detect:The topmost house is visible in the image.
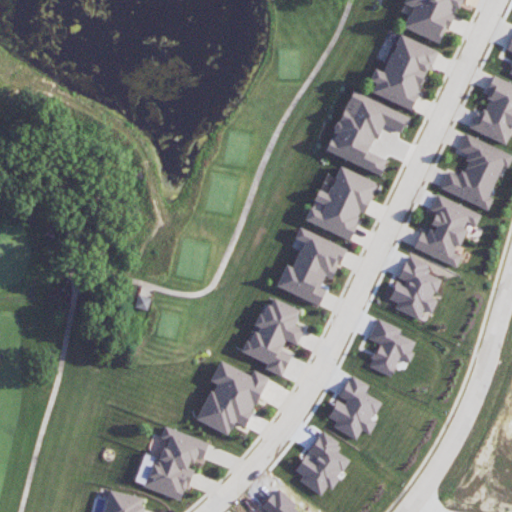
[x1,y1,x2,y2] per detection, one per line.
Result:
[403,0,468,48]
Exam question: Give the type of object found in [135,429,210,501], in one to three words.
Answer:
house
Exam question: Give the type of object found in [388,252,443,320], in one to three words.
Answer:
house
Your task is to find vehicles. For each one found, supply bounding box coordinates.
[356,230,364,236]
[246,469,261,482]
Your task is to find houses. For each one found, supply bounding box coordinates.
[365,320,418,380]
[324,94,410,175]
[296,430,354,498]
[241,298,306,379]
[369,34,442,110]
[86,486,149,512]
[388,252,443,320]
[135,429,210,501]
[306,167,378,241]
[276,228,344,307]
[414,195,483,266]
[328,375,386,442]
[470,76,512,147]
[195,362,270,435]
[403,0,468,48]
[442,136,511,209]
[266,488,302,512]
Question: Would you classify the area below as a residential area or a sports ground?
residential area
